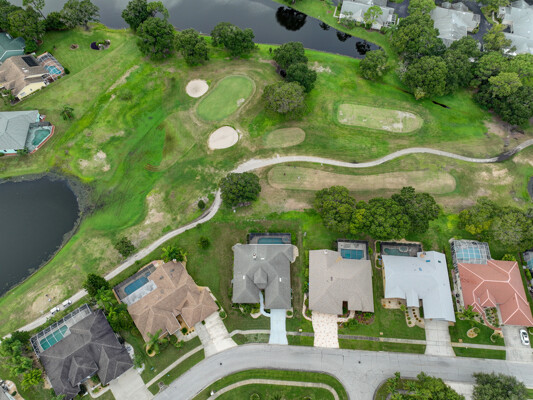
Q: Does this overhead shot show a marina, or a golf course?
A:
golf course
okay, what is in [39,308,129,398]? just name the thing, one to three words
house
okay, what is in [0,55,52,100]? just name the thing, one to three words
house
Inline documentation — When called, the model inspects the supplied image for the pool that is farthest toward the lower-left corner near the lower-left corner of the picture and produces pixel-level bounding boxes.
[37,308,91,356]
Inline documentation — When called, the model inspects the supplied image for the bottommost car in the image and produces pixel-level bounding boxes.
[518,329,531,347]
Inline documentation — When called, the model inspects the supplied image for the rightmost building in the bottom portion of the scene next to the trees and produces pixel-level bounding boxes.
[454,260,533,327]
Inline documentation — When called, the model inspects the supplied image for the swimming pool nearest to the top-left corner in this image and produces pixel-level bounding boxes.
[42,57,62,82]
